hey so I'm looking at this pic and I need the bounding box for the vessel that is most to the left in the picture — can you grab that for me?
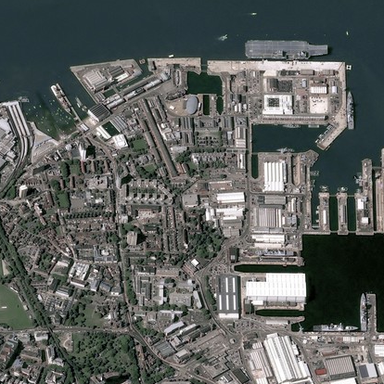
[51,85,74,117]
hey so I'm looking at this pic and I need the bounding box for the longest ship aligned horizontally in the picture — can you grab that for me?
[246,39,327,59]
